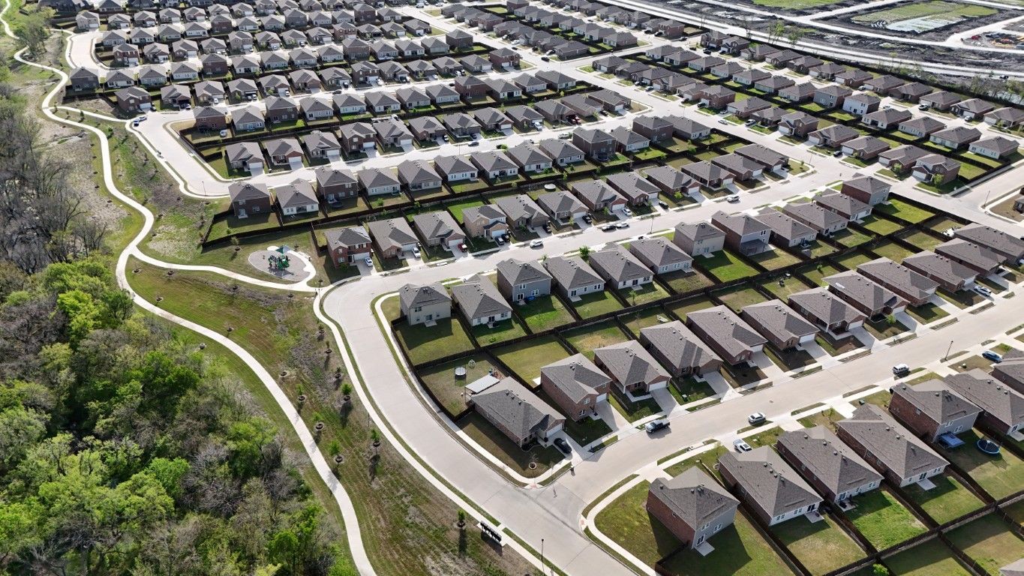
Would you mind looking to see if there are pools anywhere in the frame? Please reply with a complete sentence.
No, no pool is visible in the view.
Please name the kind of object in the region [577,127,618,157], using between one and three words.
house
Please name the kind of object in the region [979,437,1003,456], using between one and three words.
trampoline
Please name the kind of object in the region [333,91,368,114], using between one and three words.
house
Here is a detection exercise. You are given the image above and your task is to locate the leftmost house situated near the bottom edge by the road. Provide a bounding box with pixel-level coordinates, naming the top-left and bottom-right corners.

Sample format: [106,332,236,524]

[660,460,746,551]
